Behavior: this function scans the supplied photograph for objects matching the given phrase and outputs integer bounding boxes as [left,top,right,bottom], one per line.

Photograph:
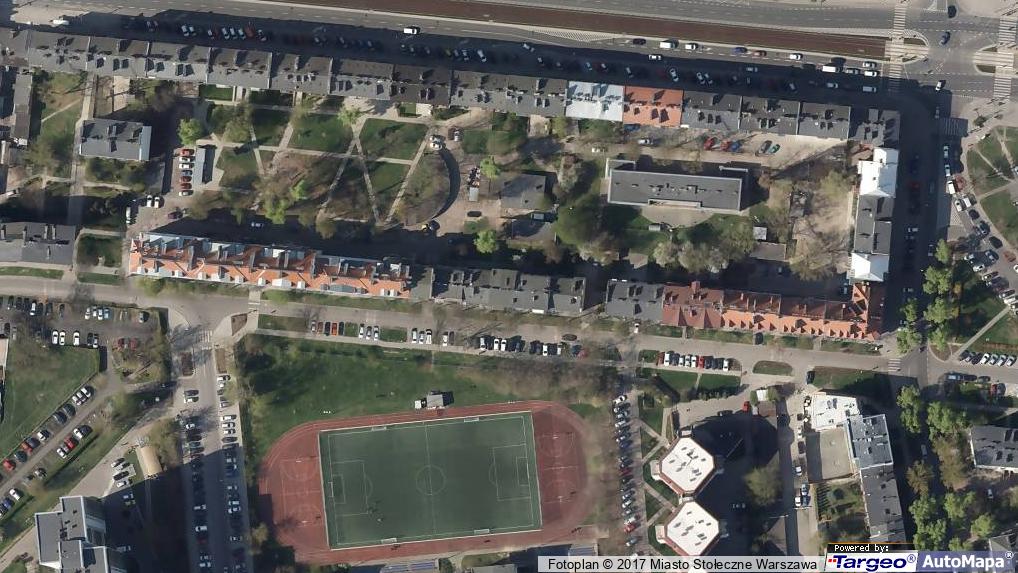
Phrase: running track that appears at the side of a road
[258,401,592,564]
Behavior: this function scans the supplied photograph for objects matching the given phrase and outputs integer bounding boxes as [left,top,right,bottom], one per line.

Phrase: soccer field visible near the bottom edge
[317,411,542,550]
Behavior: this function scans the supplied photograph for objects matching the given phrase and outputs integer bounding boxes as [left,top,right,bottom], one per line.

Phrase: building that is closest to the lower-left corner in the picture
[36,496,126,573]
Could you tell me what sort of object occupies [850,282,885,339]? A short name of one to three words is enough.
house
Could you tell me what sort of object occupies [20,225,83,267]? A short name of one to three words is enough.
building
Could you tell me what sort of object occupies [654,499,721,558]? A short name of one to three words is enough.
building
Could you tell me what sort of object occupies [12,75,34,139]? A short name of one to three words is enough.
shed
